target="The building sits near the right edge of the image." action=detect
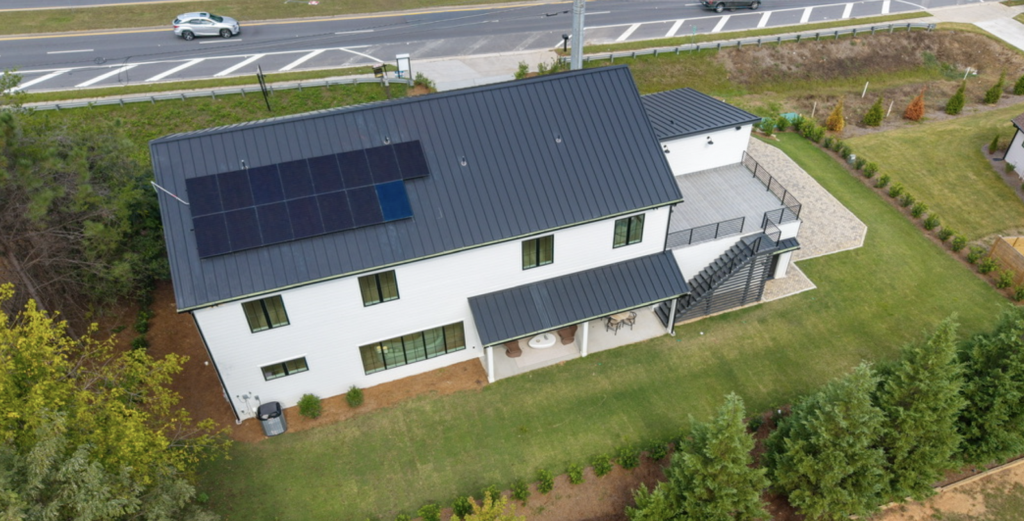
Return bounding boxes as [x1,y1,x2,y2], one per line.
[996,109,1024,172]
